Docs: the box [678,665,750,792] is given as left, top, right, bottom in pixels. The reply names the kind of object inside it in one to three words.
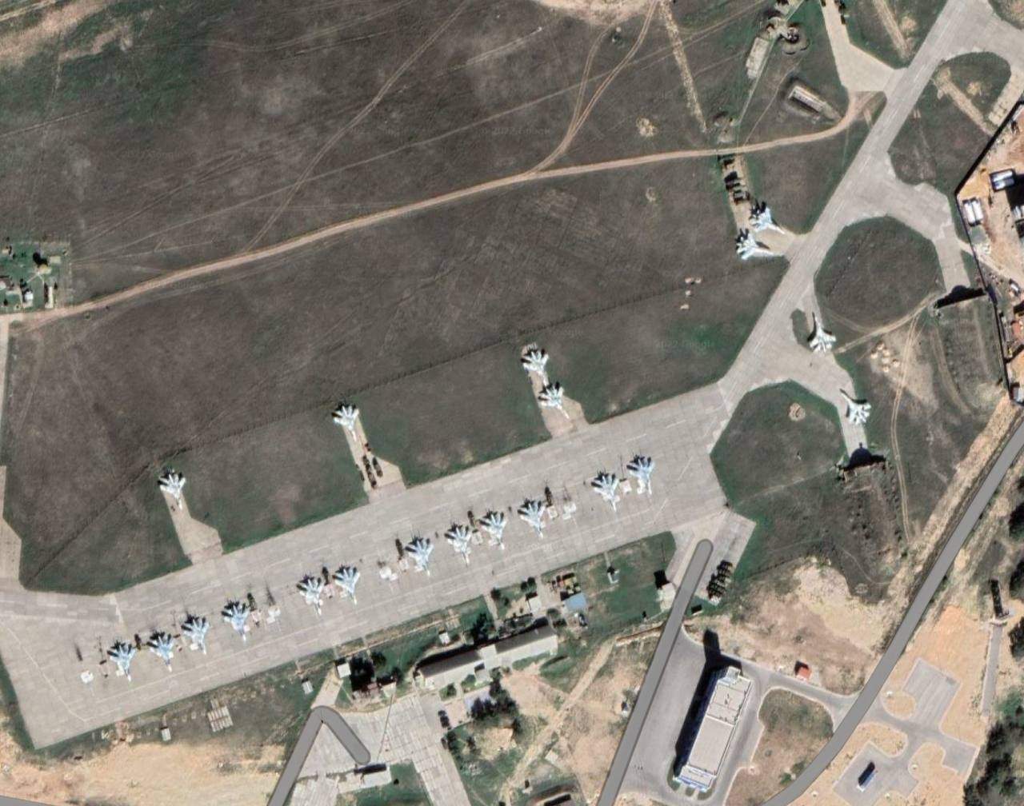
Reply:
building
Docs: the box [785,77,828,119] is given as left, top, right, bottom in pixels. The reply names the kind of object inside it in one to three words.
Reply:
building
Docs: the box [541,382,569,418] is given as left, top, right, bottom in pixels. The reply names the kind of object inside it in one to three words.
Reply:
airplane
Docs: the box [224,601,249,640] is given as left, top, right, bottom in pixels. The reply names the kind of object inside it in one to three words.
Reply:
airplane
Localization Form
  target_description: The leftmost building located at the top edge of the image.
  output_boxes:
[747,38,769,77]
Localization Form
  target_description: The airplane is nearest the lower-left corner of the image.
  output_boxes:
[109,641,135,682]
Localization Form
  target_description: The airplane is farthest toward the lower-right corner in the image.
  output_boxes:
[840,390,872,425]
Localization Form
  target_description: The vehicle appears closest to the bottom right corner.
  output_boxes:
[859,768,875,786]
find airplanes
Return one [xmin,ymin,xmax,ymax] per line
[750,207,784,233]
[483,510,507,549]
[840,390,872,425]
[630,455,655,494]
[149,631,175,670]
[224,601,249,640]
[812,318,836,356]
[160,469,185,510]
[299,576,324,614]
[521,499,546,537]
[740,234,776,259]
[334,402,359,441]
[408,536,433,577]
[335,565,360,604]
[523,346,547,386]
[109,641,135,682]
[594,472,619,511]
[541,382,569,418]
[446,524,471,564]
